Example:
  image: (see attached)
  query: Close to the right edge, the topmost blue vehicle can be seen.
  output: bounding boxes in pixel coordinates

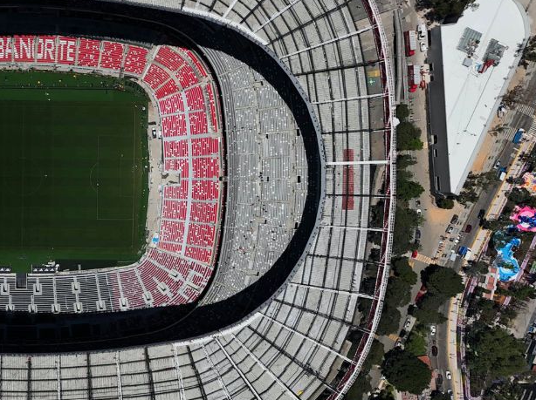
[512,128,526,144]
